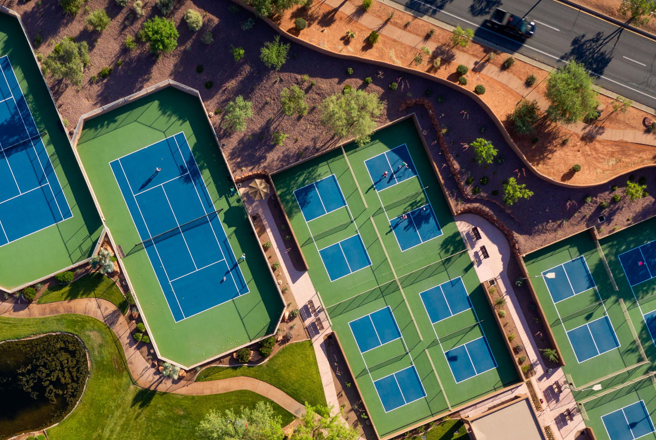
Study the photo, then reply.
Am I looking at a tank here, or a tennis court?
tennis court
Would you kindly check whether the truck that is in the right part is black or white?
black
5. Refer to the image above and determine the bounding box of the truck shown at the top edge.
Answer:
[487,5,538,39]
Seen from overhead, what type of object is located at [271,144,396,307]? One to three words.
sports court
